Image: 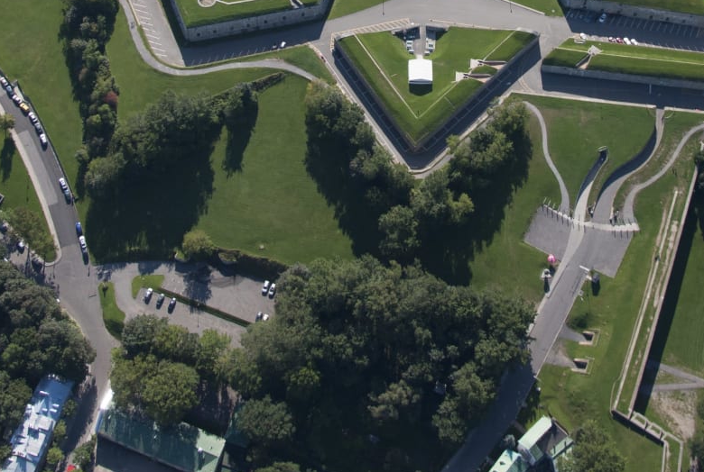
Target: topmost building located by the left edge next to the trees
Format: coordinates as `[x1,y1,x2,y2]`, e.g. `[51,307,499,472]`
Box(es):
[32,373,79,417]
